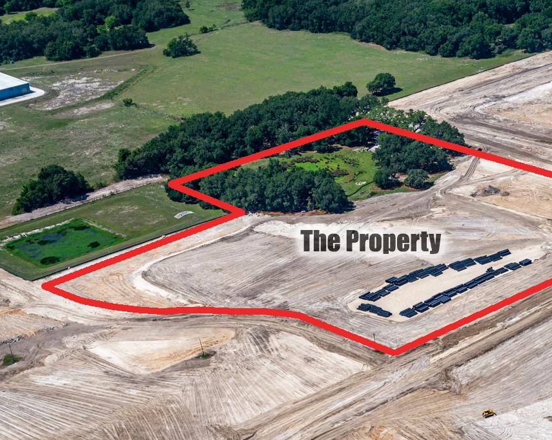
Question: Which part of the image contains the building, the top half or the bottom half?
top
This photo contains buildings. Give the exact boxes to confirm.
[0,74,31,99]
